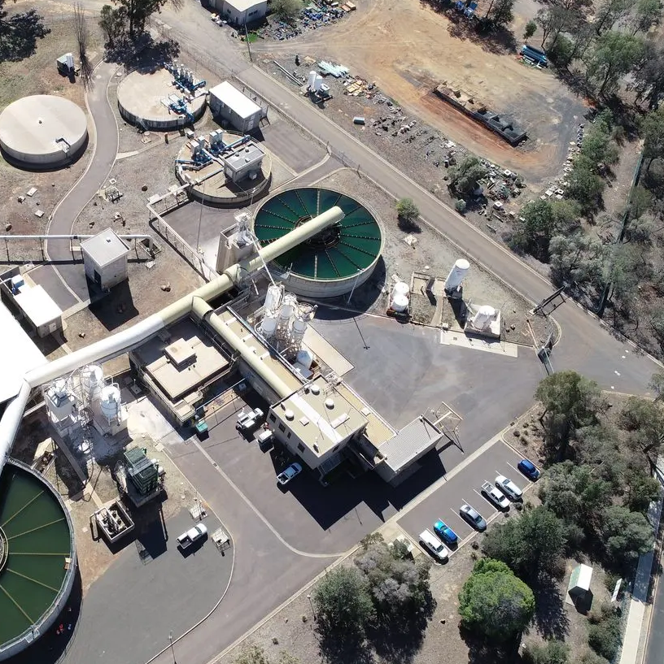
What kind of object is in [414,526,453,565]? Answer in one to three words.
truck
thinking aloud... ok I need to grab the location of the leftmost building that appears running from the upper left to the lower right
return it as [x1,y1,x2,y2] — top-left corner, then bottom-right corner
[0,266,62,338]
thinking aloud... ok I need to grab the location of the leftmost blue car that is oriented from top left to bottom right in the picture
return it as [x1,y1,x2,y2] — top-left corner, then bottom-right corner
[429,519,463,548]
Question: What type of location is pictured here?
industrial area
